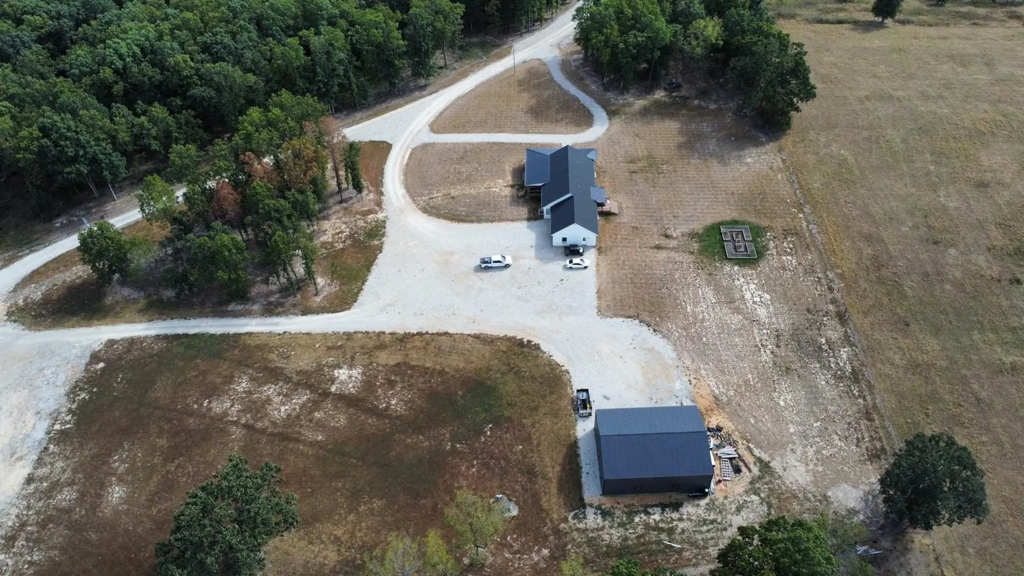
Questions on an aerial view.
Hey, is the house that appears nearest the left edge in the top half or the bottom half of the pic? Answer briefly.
top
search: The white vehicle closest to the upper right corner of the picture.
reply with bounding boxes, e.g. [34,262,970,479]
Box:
[564,256,590,268]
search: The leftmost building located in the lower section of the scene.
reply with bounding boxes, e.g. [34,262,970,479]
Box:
[590,403,717,496]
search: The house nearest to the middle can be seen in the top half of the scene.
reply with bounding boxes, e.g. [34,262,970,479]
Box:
[525,144,618,249]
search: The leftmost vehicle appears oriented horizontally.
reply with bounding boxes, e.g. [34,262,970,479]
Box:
[480,255,512,269]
